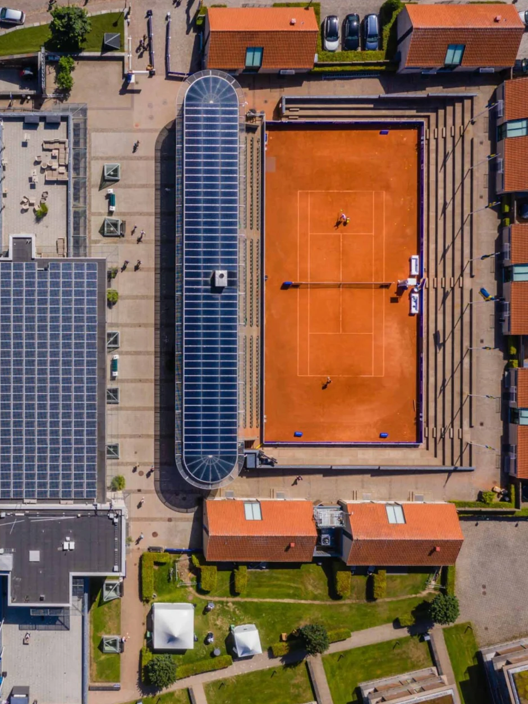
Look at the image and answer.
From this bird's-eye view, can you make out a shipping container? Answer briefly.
No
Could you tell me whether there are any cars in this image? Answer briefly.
Yes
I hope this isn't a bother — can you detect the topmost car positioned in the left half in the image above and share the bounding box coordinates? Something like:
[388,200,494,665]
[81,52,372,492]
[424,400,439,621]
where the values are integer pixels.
[0,6,25,26]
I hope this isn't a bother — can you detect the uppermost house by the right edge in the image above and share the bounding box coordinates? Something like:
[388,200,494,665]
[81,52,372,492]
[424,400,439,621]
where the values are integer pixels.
[399,4,525,74]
